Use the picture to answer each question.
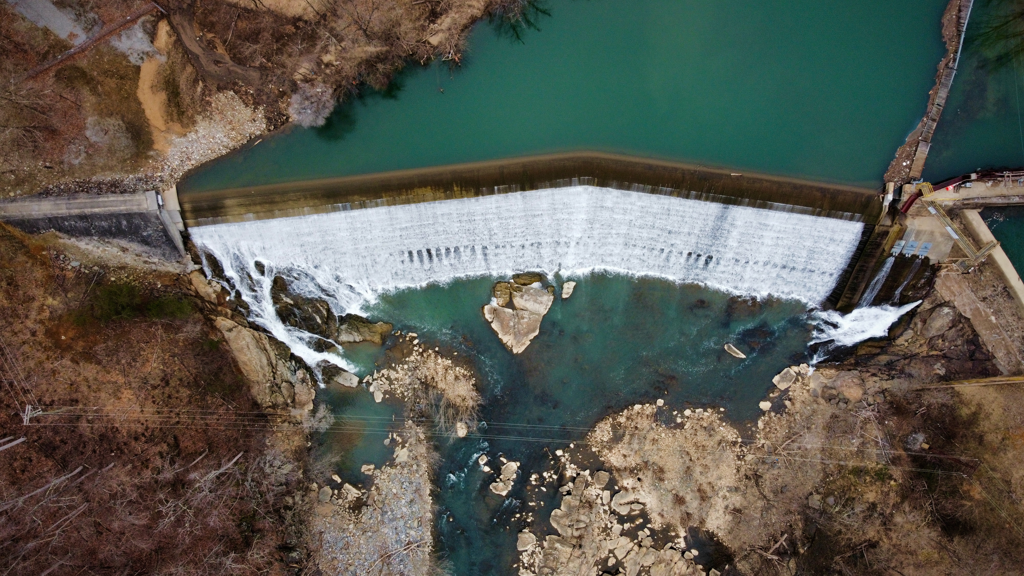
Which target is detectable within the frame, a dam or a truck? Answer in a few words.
dam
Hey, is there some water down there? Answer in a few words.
Yes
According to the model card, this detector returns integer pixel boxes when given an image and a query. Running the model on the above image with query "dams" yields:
[186,146,880,303]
